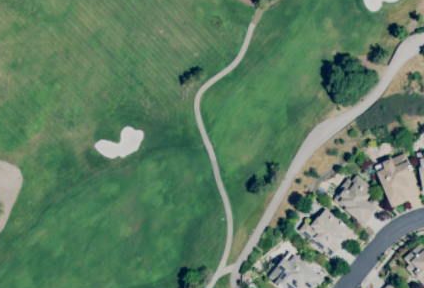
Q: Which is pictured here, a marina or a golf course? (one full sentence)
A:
The picture captures a golf course.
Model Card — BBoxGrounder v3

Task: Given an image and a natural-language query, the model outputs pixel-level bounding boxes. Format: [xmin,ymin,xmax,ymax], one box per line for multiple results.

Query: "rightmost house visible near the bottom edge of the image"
[403,246,424,286]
